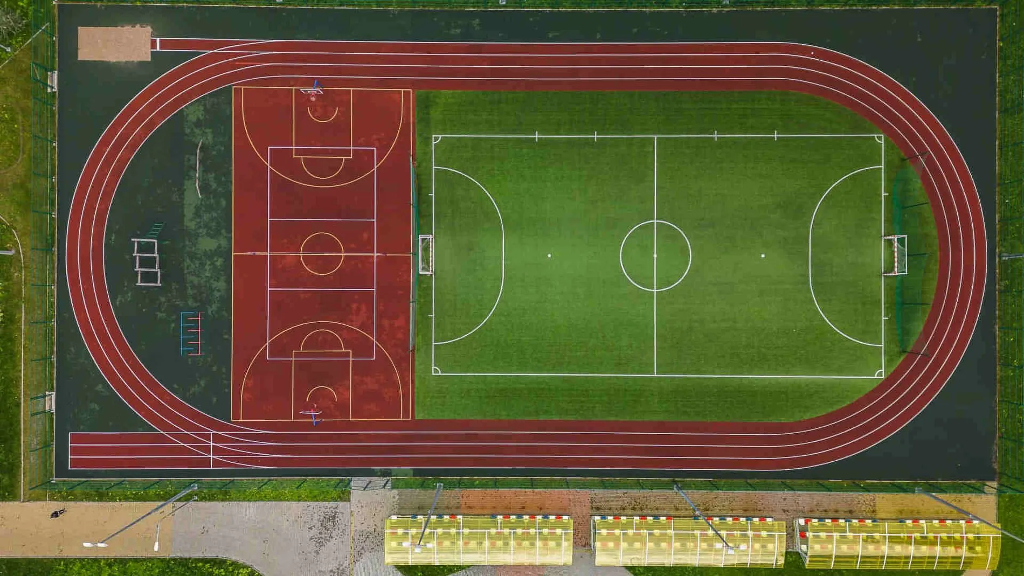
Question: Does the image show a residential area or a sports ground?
sports ground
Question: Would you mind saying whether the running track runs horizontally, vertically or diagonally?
horizontally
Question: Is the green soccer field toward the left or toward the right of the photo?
right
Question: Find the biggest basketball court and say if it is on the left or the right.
left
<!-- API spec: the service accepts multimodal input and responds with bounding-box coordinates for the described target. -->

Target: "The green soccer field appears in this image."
[416,90,938,422]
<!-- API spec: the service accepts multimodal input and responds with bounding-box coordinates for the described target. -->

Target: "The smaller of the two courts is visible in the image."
[267,147,376,359]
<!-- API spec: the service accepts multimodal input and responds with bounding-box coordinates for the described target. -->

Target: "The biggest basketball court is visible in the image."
[232,86,416,421]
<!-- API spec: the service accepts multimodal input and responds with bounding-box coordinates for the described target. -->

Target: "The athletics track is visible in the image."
[66,40,987,470]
